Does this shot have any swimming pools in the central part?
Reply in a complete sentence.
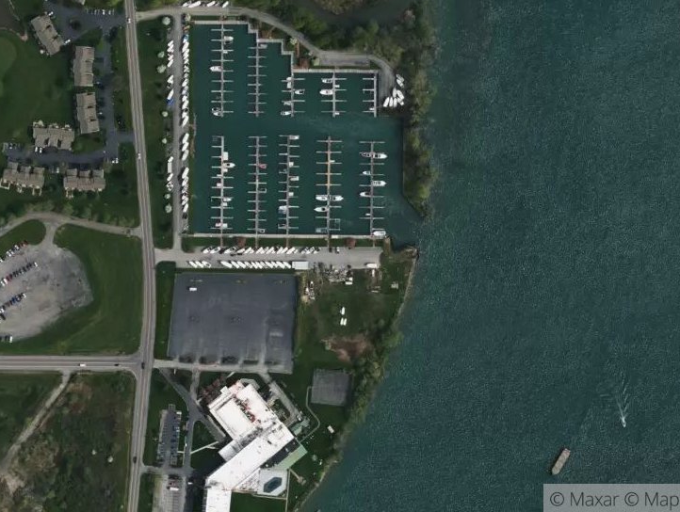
No, no swimming pool can be made out in the central part.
